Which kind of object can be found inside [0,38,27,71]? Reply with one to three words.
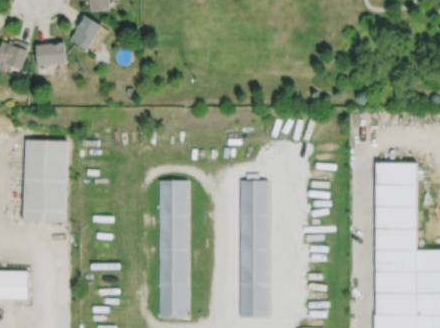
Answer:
house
